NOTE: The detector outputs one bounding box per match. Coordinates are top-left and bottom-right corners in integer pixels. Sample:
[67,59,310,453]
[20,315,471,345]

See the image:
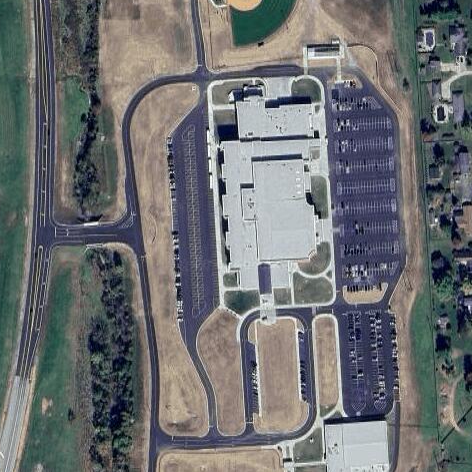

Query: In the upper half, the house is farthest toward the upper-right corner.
[450,27,466,53]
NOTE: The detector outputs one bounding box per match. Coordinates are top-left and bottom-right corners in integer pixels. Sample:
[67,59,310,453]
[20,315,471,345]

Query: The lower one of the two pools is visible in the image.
[433,104,450,123]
